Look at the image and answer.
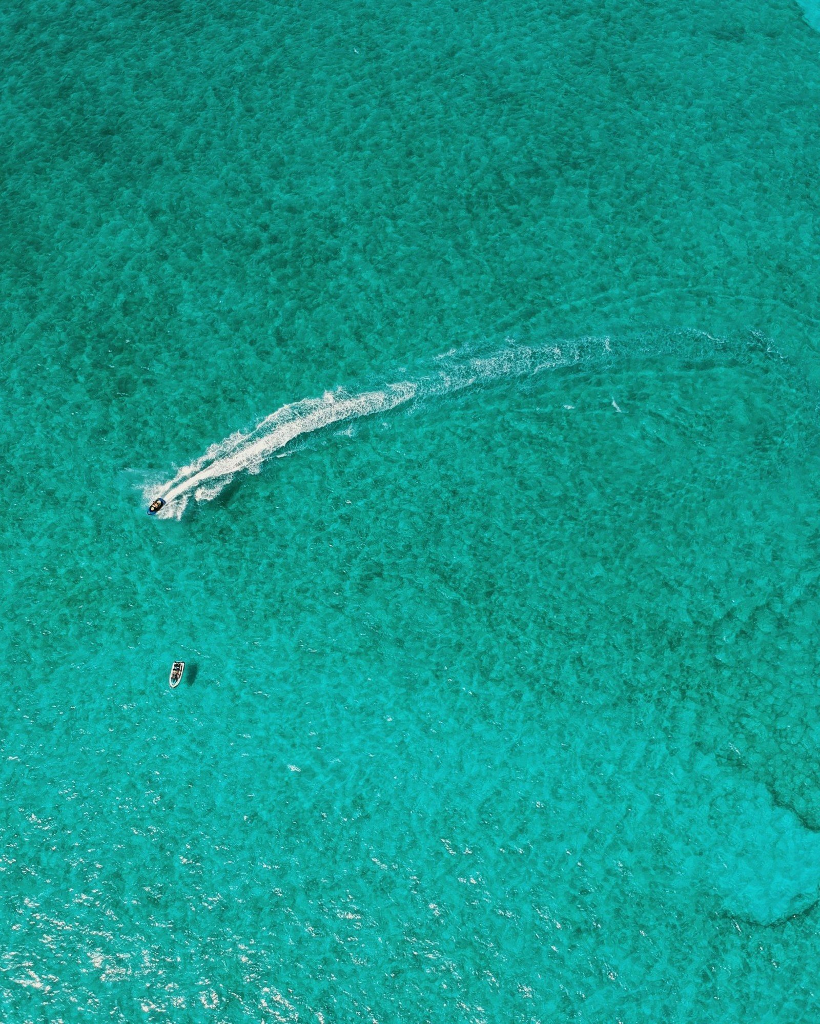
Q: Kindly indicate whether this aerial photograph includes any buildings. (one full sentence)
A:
No, I can see no building in this picture.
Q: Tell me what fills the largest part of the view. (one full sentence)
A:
The largest share of the image is taken up by water.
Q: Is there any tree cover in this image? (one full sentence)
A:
No, there's no tree cover in this view.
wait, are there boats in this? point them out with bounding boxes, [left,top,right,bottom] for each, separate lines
[169,660,185,688]
[147,498,166,515]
